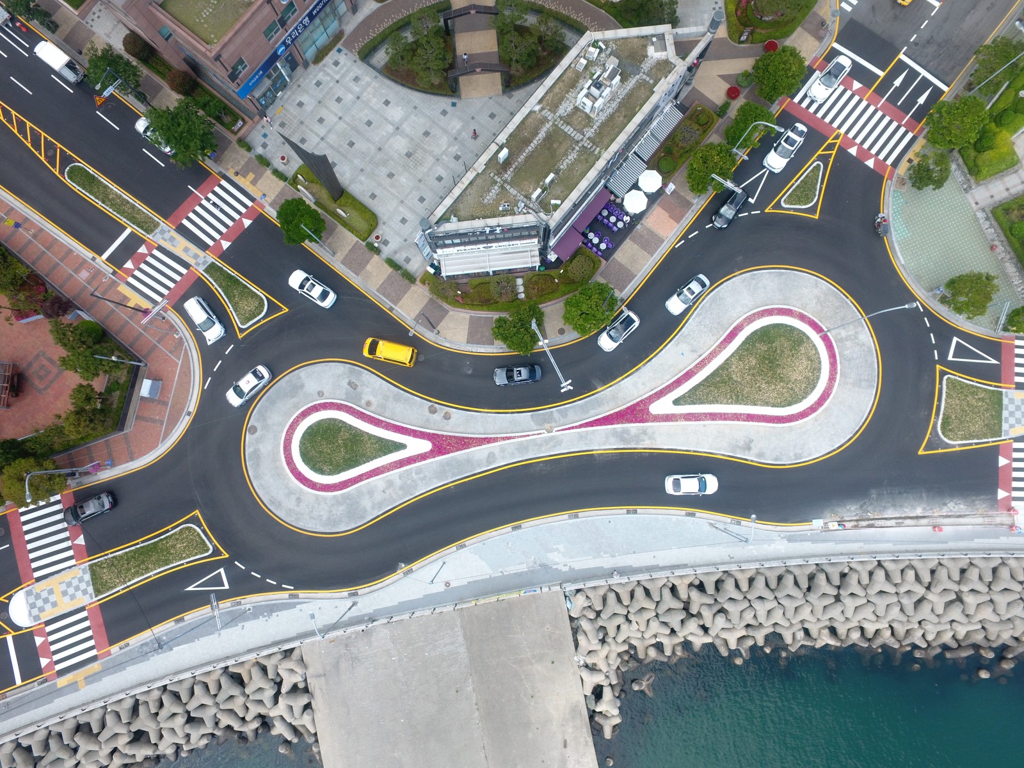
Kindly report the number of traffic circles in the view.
1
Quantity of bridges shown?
zero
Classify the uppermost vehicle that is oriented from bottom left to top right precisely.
automobile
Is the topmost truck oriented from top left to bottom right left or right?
left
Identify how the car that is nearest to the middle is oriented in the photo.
from left to right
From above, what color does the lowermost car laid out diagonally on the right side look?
white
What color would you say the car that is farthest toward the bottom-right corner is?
white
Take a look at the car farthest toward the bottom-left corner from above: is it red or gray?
gray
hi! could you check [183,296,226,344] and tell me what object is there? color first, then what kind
white car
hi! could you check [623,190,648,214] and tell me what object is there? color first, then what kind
white umbrella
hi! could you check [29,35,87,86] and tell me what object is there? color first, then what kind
white truck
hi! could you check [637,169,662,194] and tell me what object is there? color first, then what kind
white umbrella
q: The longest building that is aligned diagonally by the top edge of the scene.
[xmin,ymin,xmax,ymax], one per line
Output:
[417,9,729,282]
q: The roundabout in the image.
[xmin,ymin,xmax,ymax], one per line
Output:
[242,265,882,537]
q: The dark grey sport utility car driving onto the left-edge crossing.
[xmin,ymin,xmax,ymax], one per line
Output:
[62,491,117,526]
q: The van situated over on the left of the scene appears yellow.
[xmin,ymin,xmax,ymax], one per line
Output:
[361,336,418,368]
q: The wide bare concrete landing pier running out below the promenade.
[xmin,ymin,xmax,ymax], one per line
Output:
[301,592,599,768]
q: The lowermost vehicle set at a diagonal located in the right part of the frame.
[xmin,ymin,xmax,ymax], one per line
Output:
[596,307,642,353]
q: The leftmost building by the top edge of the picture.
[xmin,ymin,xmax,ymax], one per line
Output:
[94,0,358,117]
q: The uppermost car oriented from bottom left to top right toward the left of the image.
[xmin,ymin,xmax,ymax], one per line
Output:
[225,362,275,409]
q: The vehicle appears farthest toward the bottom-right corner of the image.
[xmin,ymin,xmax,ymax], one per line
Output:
[663,472,719,498]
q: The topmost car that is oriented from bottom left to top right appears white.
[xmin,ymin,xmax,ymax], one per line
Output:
[805,53,853,106]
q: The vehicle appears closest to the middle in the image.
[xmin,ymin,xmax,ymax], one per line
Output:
[491,363,544,388]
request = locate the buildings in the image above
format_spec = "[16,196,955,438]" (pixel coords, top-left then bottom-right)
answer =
[94,0,358,117]
[417,9,729,282]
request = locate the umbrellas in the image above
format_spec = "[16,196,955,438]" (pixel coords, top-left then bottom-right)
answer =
[637,169,662,194]
[623,190,648,214]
